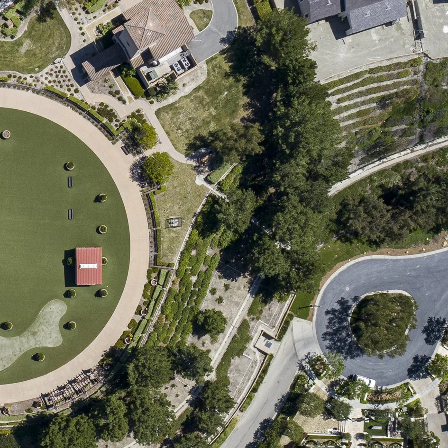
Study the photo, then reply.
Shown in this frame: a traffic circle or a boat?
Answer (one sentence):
The image shows a traffic circle.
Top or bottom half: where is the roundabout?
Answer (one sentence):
You can find the roundabout in the bottom half.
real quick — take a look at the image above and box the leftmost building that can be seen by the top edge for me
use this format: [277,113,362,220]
[82,0,194,82]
